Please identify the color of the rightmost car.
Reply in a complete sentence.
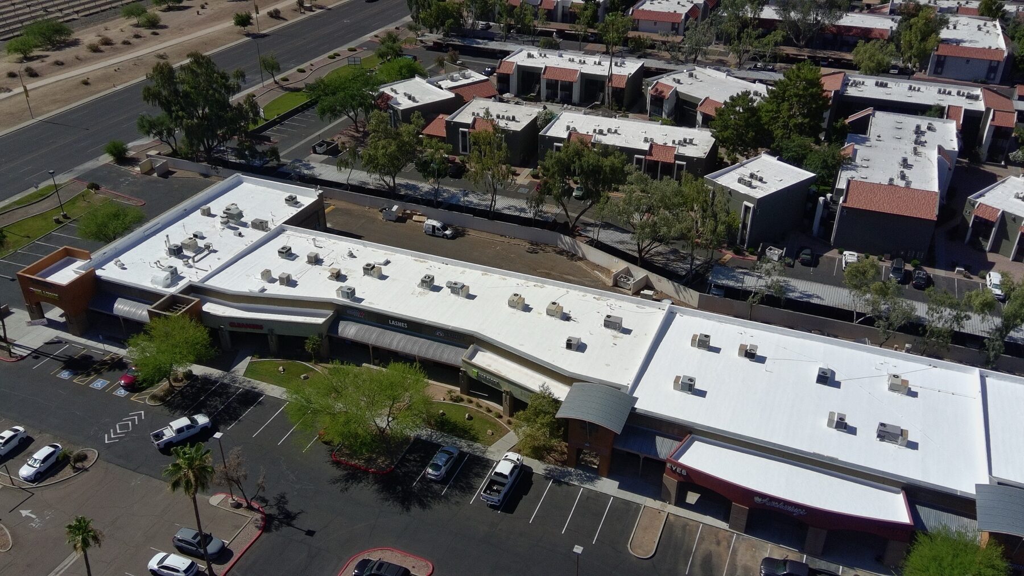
The color of the rightmost car is white.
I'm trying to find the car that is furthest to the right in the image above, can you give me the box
[983,270,1008,297]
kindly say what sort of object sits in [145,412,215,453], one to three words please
truck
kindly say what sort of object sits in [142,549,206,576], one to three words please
car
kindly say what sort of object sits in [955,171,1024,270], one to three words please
building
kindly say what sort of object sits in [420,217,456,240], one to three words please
vehicle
